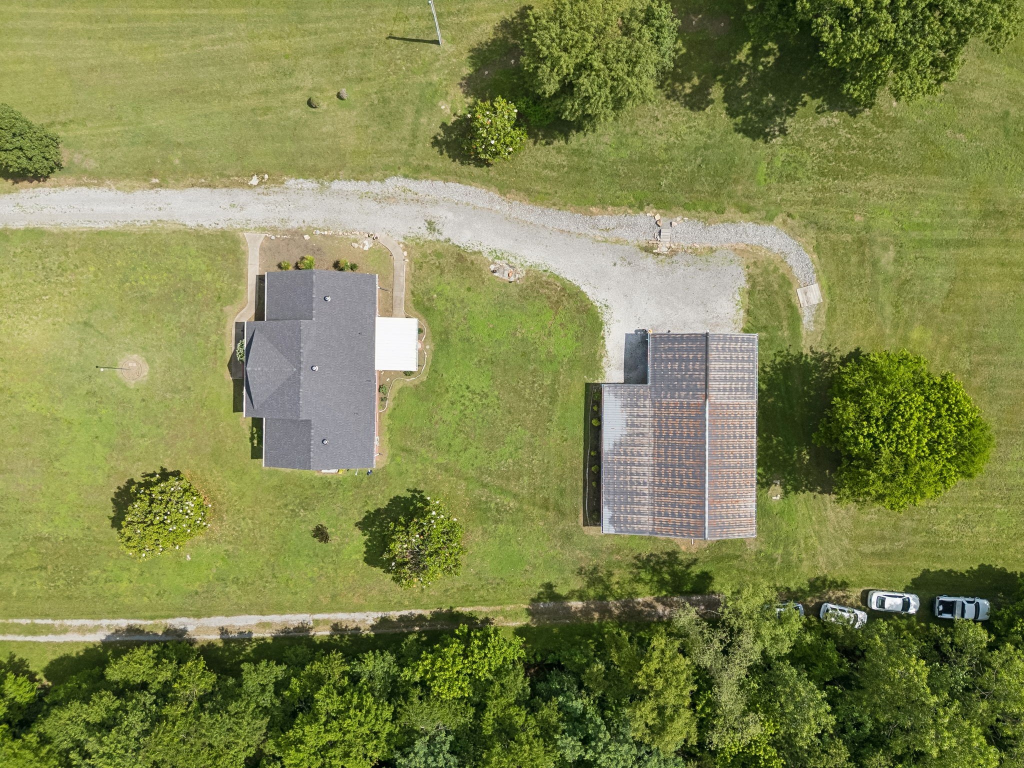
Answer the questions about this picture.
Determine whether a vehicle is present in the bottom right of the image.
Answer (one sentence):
Yes, looking in the bottom right of the image, one can make out a vehicle.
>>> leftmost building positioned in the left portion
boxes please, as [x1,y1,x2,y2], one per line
[242,268,396,471]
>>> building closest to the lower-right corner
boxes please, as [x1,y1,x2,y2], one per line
[600,328,760,541]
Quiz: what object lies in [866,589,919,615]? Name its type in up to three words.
car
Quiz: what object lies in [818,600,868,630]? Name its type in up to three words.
car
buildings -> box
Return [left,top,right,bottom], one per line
[600,328,760,541]
[242,268,396,471]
